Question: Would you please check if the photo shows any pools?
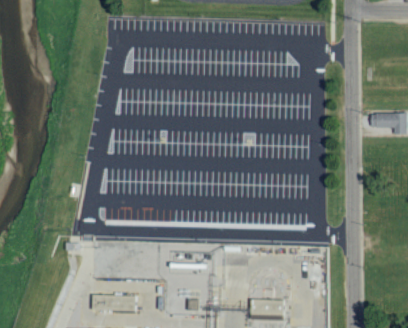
No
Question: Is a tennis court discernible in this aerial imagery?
No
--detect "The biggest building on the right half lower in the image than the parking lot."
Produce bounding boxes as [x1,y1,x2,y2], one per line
[251,300,286,320]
